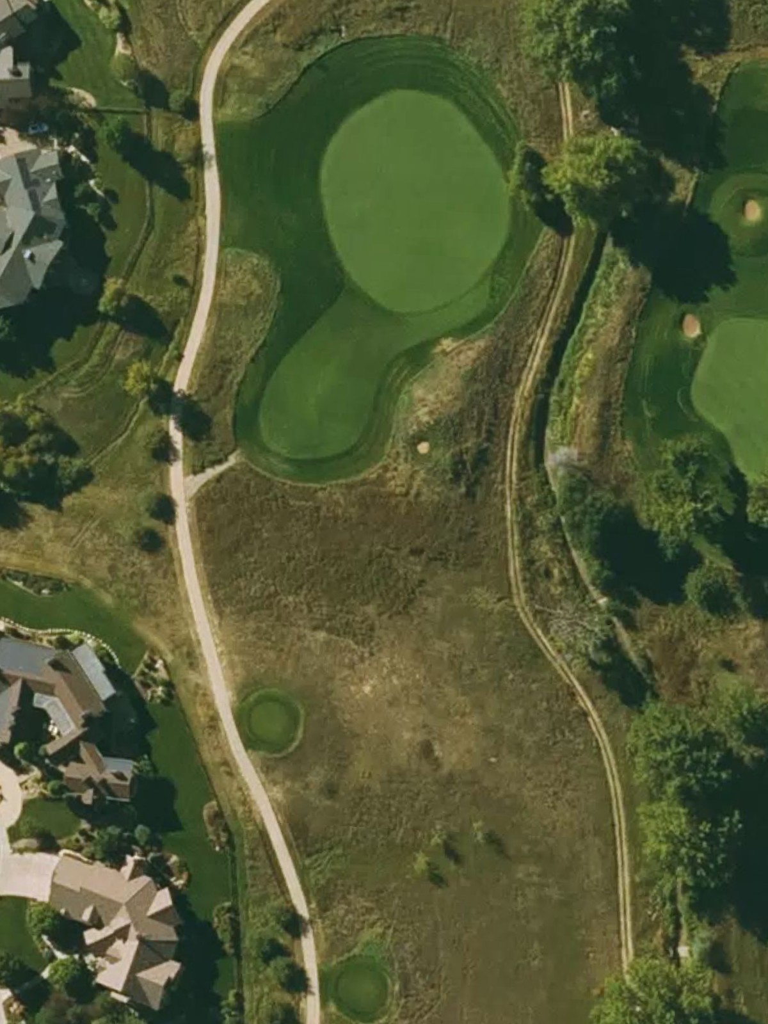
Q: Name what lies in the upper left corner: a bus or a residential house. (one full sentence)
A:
Looking in the upper left corner, you will find a residential house.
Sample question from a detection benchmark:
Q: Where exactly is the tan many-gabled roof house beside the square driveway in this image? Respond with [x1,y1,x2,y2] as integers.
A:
[49,855,182,1011]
